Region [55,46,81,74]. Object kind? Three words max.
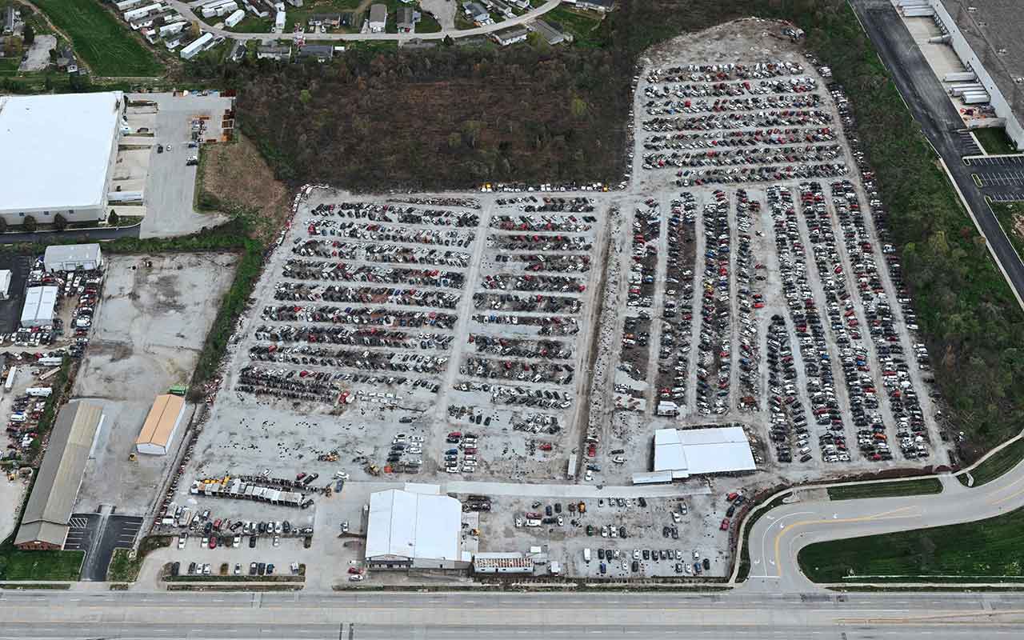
house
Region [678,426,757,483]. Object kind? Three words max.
building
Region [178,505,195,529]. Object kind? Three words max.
vehicle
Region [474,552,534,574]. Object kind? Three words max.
shed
